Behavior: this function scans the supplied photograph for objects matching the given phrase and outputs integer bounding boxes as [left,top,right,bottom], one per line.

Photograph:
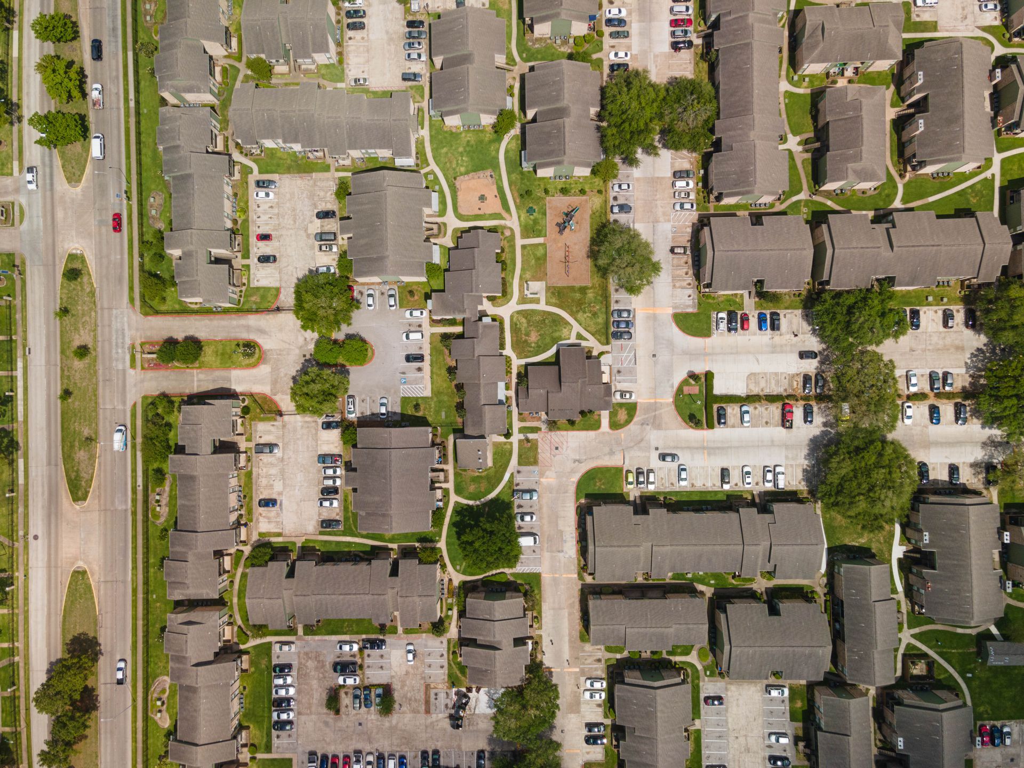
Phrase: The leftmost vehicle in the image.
[24,165,37,190]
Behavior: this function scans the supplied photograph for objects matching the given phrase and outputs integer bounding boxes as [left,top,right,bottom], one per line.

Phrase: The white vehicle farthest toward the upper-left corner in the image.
[90,83,103,108]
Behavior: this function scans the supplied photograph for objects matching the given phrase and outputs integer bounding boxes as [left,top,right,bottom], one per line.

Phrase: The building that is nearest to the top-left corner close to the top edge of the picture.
[155,0,238,102]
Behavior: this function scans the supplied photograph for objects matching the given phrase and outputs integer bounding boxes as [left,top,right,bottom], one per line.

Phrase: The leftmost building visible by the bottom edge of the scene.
[164,606,249,768]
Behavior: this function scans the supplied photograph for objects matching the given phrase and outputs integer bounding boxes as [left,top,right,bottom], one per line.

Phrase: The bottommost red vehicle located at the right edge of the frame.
[980,726,992,748]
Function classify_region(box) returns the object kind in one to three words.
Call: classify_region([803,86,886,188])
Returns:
building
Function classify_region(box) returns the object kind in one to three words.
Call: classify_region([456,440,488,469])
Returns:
shed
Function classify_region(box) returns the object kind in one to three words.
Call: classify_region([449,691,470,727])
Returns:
truck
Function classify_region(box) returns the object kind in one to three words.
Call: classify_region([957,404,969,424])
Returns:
vehicle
